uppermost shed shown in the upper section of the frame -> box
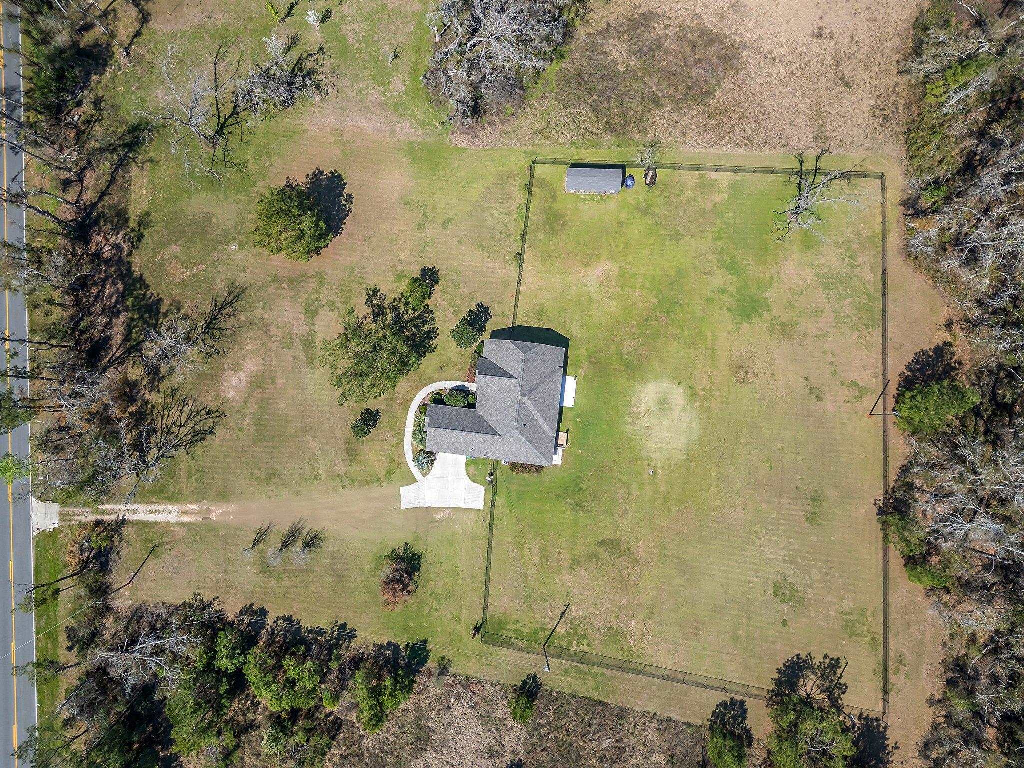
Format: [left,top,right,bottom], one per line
[567,167,623,198]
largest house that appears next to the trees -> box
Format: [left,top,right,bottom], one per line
[425,340,565,466]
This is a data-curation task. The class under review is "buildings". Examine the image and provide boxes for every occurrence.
[567,167,623,198]
[425,340,565,466]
